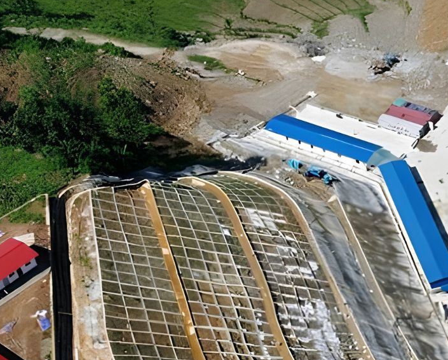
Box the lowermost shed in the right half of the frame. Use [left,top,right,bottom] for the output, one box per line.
[367,143,448,293]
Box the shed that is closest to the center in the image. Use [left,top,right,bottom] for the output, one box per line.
[263,113,381,170]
